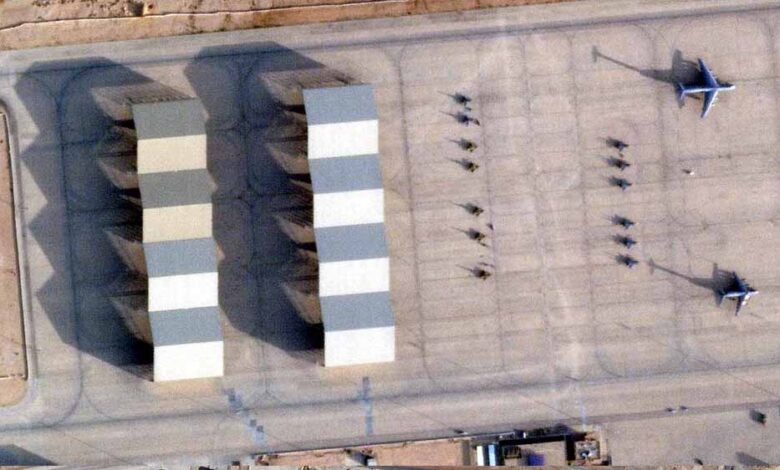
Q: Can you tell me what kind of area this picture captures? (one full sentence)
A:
The area seen from above is an airport.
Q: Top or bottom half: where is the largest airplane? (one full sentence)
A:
The largest airplane sits in the top half of the picture.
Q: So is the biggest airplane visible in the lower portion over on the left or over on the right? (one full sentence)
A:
The biggest airplane visible in the lower portion appears in the right half of the scene.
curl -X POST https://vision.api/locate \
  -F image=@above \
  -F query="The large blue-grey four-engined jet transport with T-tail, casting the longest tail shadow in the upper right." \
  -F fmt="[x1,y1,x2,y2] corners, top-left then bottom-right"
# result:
[679,61,735,120]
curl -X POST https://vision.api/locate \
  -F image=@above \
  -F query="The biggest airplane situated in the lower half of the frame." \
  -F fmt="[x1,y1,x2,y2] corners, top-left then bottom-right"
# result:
[719,273,758,316]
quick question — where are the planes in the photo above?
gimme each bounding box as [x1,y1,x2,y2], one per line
[622,219,637,230]
[471,232,486,243]
[458,95,473,106]
[469,207,485,218]
[459,115,475,126]
[465,163,481,174]
[625,257,641,268]
[615,142,631,152]
[679,61,735,120]
[617,161,633,171]
[623,238,639,249]
[719,273,758,316]
[619,179,634,190]
[463,142,479,153]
